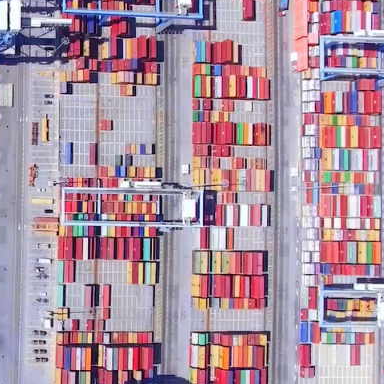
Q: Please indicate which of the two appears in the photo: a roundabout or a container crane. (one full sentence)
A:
The one in the frame is a container crane.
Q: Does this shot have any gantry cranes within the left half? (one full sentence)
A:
Yes, there is a gantry crane within the left half.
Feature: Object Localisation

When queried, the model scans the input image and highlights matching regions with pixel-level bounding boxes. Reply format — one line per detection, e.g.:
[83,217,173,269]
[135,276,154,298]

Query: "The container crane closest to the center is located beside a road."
[60,181,206,235]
